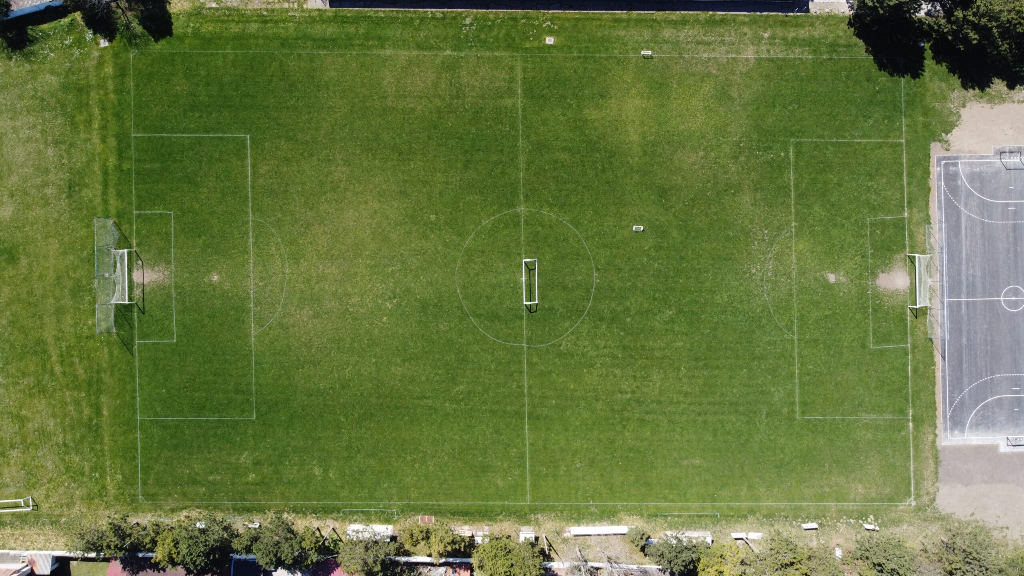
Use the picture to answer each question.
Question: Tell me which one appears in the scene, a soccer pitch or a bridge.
soccer pitch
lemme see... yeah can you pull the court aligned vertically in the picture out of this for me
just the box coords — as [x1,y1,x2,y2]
[936,144,1024,453]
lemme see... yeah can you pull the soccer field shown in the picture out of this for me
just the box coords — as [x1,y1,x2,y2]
[131,51,912,518]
